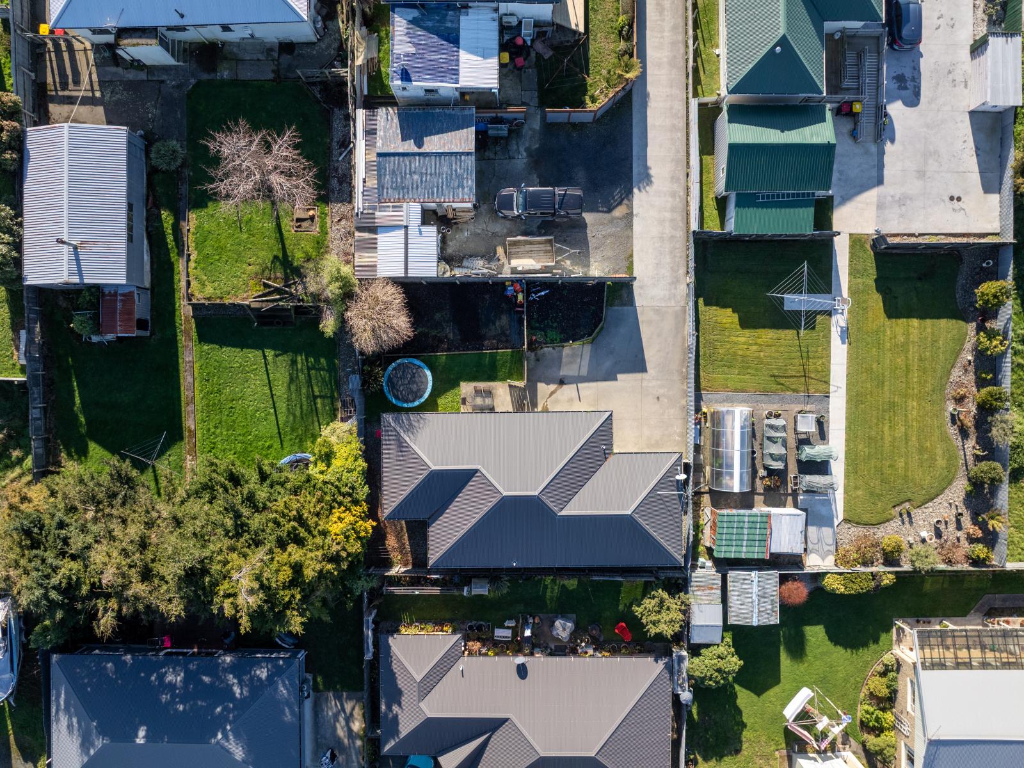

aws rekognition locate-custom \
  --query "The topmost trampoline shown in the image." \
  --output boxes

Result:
[384,357,433,407]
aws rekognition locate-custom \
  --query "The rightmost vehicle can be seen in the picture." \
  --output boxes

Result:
[883,0,925,55]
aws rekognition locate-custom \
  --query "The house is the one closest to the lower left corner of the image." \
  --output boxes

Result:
[48,632,315,768]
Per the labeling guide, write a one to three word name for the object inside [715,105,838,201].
shed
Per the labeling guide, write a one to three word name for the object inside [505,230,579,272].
trailer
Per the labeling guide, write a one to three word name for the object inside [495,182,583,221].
truck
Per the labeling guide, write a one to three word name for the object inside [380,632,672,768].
house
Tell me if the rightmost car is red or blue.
blue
